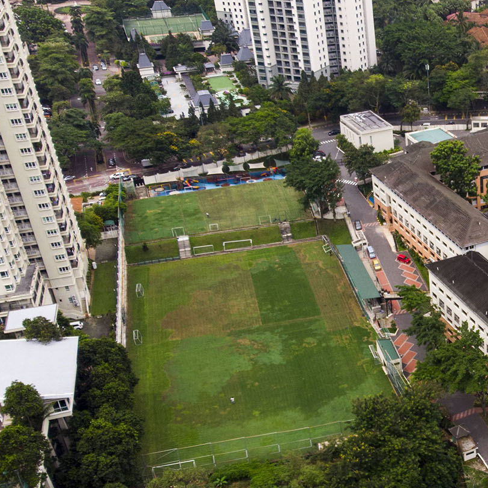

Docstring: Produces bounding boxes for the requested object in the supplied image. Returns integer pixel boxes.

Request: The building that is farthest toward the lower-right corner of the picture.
[455,437,486,463]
